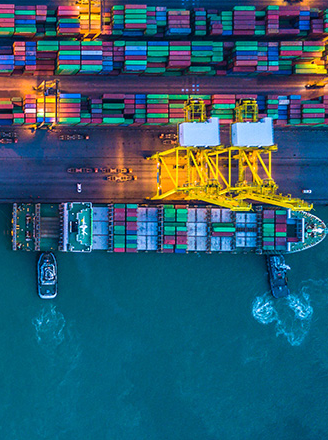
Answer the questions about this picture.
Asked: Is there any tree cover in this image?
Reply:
No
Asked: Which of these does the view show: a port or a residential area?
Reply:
port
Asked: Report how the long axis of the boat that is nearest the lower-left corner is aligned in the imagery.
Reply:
vertically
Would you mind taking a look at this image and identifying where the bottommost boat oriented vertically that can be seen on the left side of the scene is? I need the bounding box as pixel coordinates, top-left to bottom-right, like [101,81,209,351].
[37,252,57,298]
